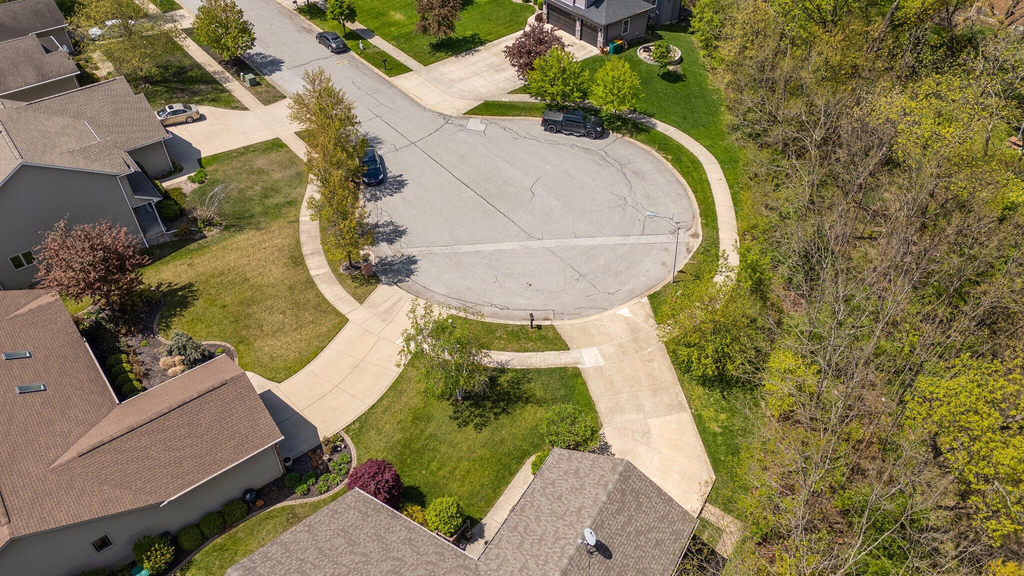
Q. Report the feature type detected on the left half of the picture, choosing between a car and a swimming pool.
car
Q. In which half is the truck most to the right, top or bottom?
top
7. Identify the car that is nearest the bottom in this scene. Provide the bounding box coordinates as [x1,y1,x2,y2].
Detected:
[360,146,385,182]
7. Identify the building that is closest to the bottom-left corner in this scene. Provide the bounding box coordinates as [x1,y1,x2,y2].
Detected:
[0,289,286,576]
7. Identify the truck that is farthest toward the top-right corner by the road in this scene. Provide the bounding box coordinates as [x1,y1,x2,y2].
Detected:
[541,107,606,139]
